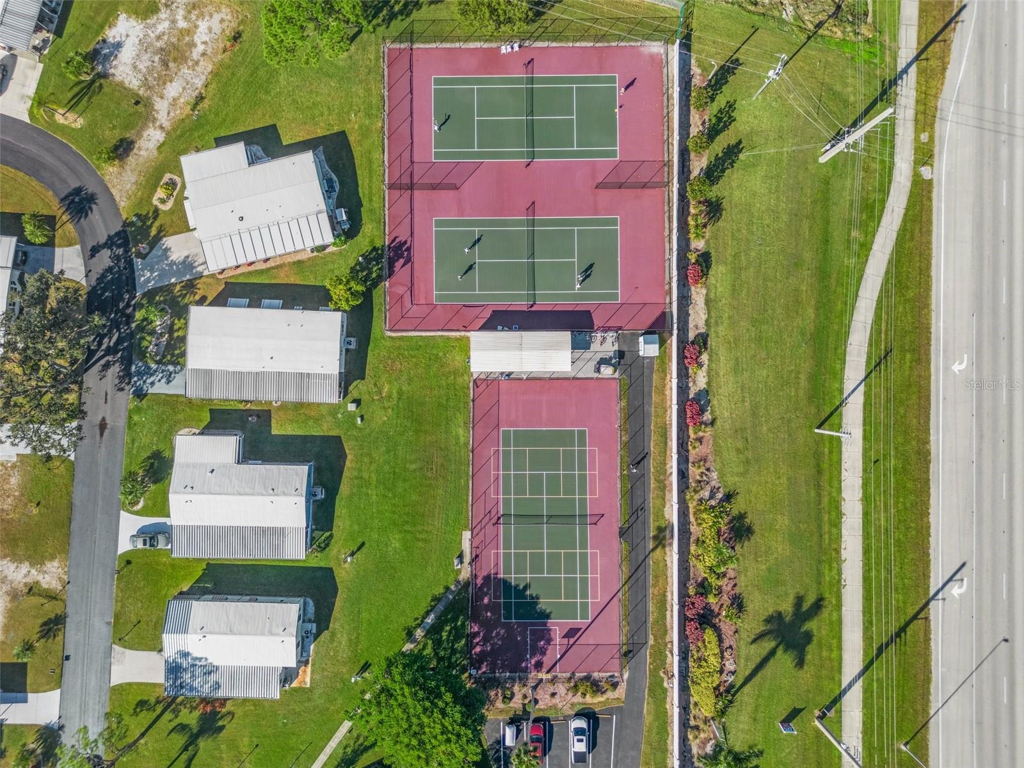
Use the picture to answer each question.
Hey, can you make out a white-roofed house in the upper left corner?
Yes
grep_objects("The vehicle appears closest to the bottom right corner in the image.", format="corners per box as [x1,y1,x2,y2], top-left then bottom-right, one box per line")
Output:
[570,716,589,764]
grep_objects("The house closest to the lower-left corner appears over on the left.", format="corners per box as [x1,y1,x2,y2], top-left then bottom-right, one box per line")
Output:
[162,594,304,699]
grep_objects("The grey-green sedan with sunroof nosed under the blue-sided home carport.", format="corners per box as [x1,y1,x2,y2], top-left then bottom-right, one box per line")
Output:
[129,533,169,552]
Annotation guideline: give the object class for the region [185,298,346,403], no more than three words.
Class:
house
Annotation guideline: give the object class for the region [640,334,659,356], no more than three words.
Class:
shed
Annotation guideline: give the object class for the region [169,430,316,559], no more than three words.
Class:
house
